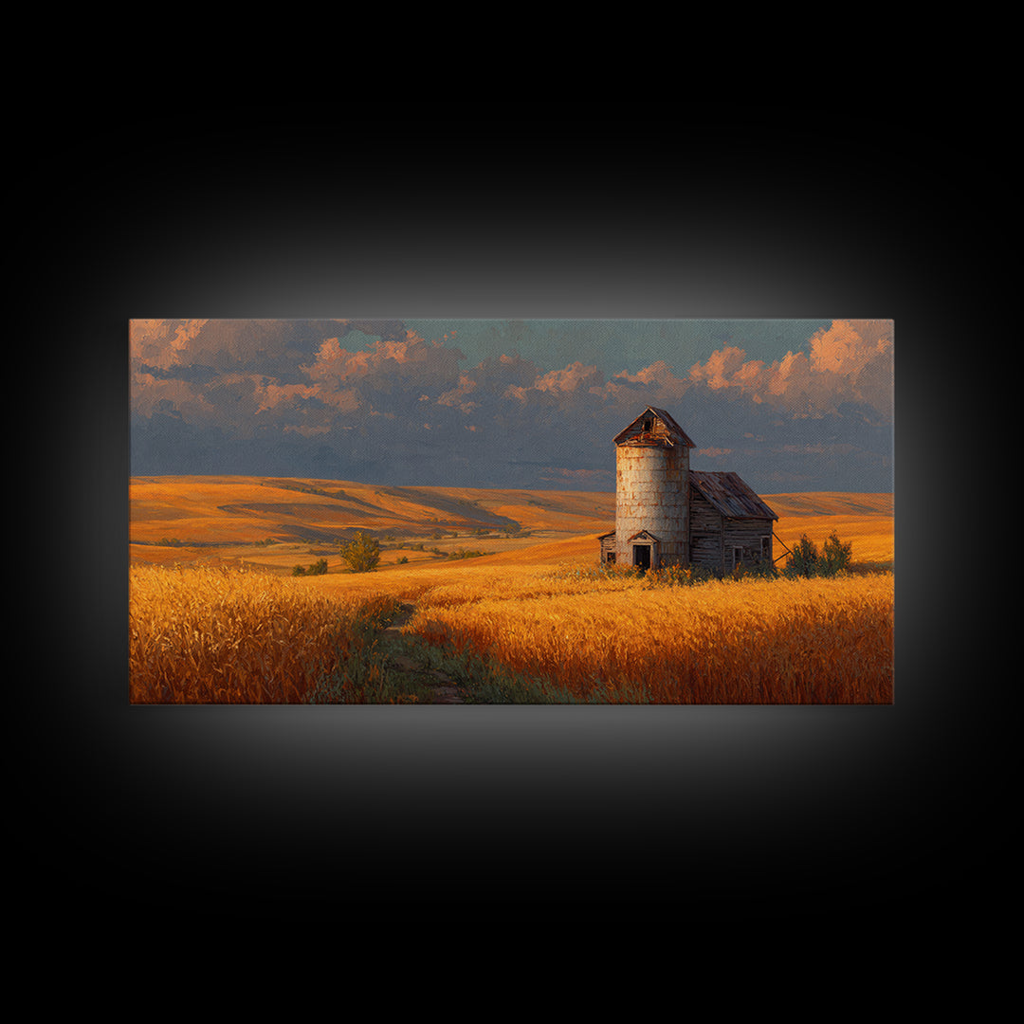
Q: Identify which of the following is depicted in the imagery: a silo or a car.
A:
silo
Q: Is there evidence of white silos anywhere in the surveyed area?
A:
No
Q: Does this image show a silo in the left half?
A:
No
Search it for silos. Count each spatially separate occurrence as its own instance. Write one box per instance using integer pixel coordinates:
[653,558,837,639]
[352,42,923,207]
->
[612,405,695,568]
